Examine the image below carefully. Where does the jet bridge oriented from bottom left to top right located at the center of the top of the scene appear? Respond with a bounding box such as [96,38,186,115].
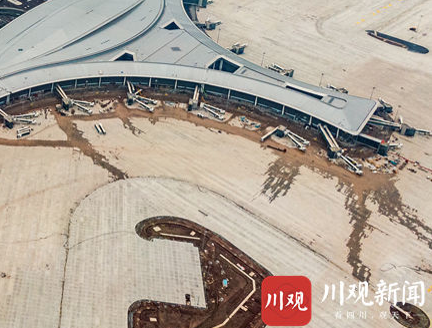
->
[229,43,248,55]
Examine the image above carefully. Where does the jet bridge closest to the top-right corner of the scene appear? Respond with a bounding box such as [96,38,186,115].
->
[376,97,392,115]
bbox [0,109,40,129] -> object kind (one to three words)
jet bridge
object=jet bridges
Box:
[184,0,215,9]
[357,133,405,157]
[229,43,248,55]
[58,89,95,116]
[195,22,223,32]
[0,109,40,129]
[188,90,227,122]
[369,114,432,139]
[376,97,392,115]
[259,128,312,151]
[126,83,158,113]
[320,128,365,171]
[266,63,293,77]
